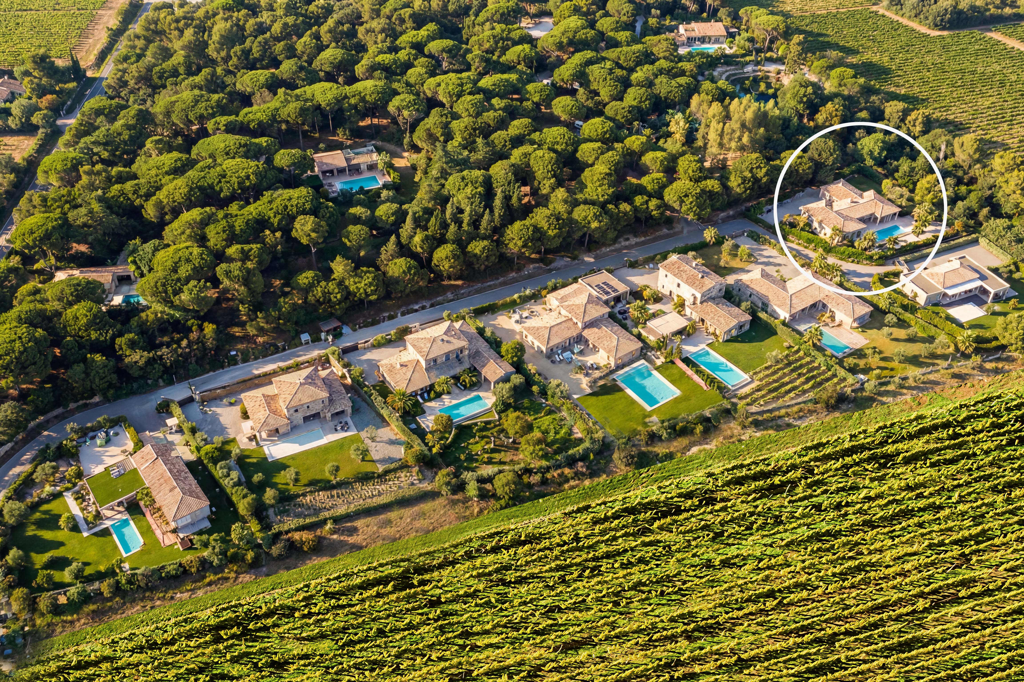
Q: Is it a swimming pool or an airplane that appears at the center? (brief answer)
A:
swimming pool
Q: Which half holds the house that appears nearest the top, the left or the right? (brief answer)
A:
right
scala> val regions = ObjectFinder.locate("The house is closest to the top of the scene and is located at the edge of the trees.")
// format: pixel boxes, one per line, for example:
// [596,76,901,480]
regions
[673,18,739,46]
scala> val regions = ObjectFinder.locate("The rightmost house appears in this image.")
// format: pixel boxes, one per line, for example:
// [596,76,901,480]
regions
[897,251,1016,305]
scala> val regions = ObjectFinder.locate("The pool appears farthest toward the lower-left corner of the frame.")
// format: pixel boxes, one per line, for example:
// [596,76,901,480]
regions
[106,515,147,556]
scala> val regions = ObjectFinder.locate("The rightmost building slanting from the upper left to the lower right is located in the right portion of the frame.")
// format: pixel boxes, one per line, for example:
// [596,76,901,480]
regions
[659,255,752,340]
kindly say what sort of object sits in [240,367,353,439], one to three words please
house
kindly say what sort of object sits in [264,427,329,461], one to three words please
swimming pool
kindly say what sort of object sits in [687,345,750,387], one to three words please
swimming pool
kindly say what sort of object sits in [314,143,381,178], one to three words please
house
